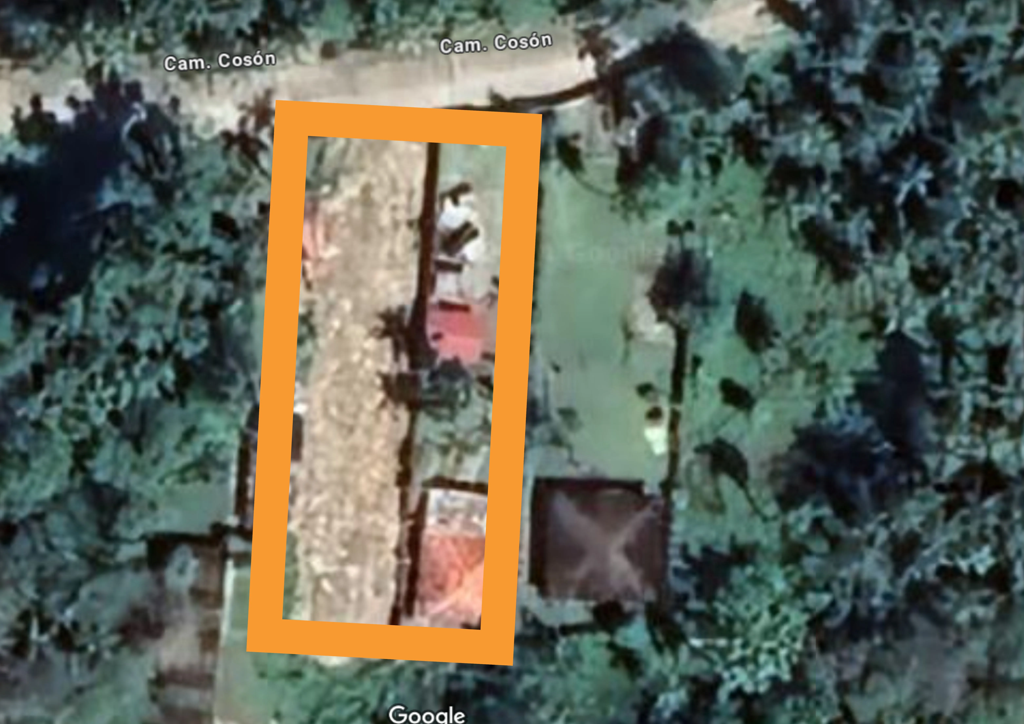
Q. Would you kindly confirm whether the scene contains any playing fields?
No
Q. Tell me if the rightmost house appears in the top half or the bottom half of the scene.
bottom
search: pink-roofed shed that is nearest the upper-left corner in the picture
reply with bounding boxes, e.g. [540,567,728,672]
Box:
[431,305,490,362]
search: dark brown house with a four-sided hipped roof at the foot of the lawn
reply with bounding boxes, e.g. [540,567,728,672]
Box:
[540,485,669,602]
